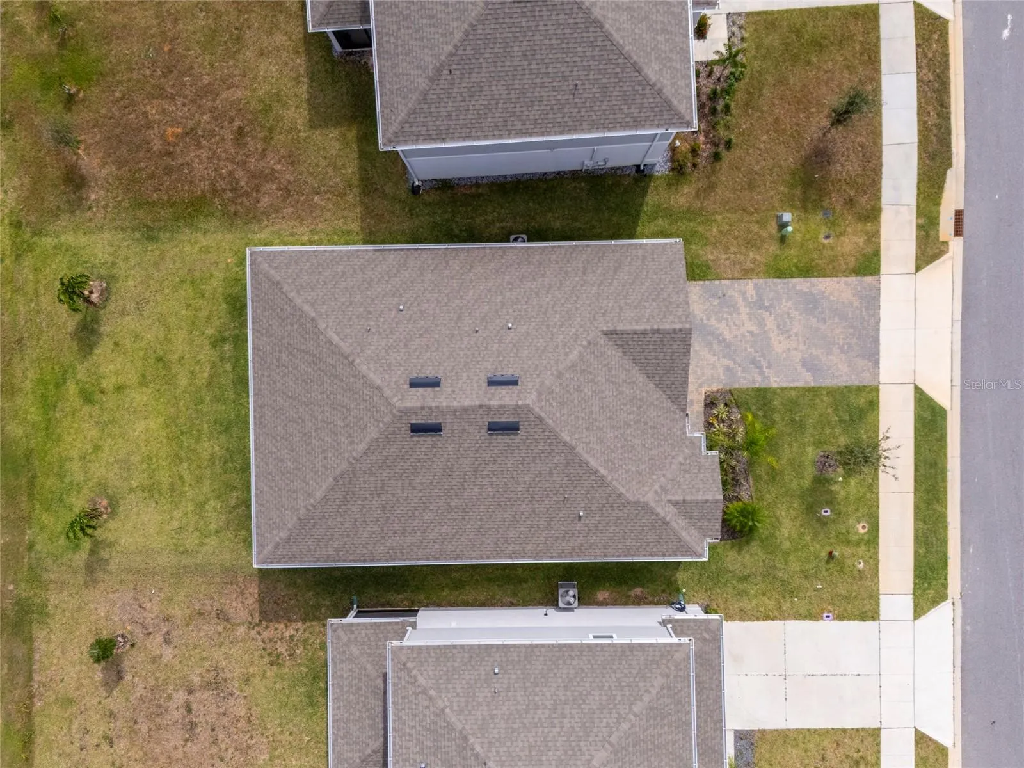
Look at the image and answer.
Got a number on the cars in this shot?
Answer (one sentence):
The count of cars is 0.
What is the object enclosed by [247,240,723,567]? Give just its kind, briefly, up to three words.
house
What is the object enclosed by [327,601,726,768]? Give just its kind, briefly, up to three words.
house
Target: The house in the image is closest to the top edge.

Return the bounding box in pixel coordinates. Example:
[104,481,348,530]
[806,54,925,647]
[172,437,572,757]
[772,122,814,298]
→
[305,0,718,182]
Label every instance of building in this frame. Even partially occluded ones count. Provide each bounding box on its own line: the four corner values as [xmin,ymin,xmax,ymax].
[247,240,723,567]
[327,601,726,768]
[305,0,718,182]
